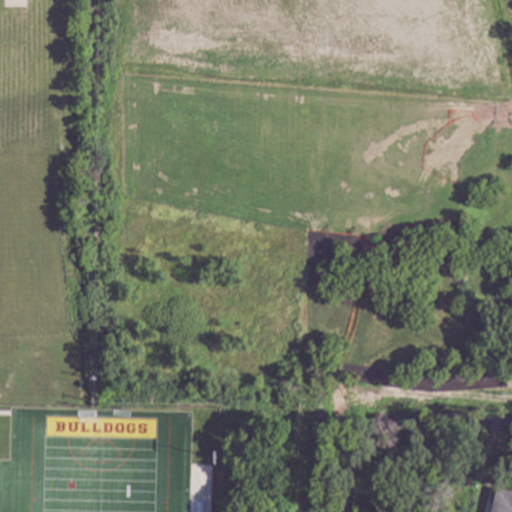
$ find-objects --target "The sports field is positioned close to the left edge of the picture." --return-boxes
[0,406,192,512]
